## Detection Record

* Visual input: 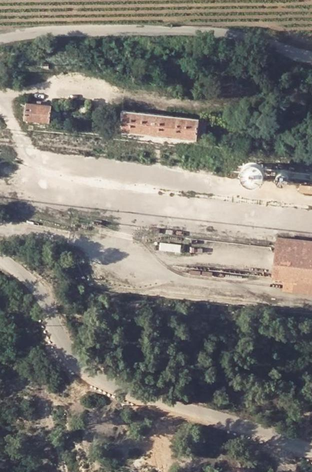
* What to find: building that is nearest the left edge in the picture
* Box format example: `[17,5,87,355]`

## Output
[24,102,51,124]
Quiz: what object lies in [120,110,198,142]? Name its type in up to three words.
building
